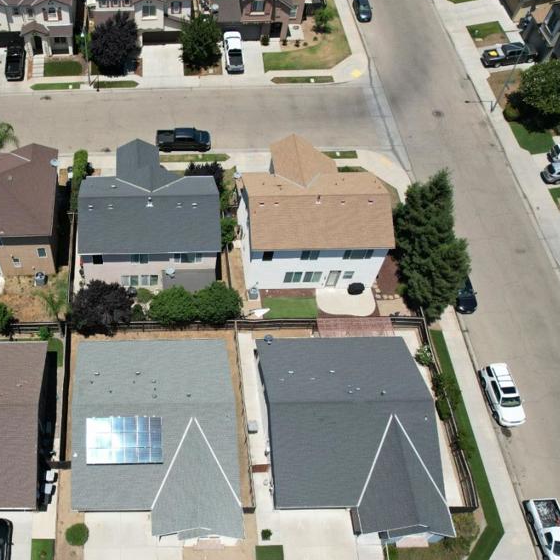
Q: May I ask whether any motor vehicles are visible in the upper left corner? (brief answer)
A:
Yes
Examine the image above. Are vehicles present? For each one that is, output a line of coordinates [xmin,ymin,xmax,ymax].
[156,129,210,153]
[0,519,13,560]
[478,365,525,429]
[3,48,26,80]
[450,266,481,312]
[350,0,373,23]
[544,141,560,162]
[475,43,532,67]
[524,498,560,560]
[539,161,560,185]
